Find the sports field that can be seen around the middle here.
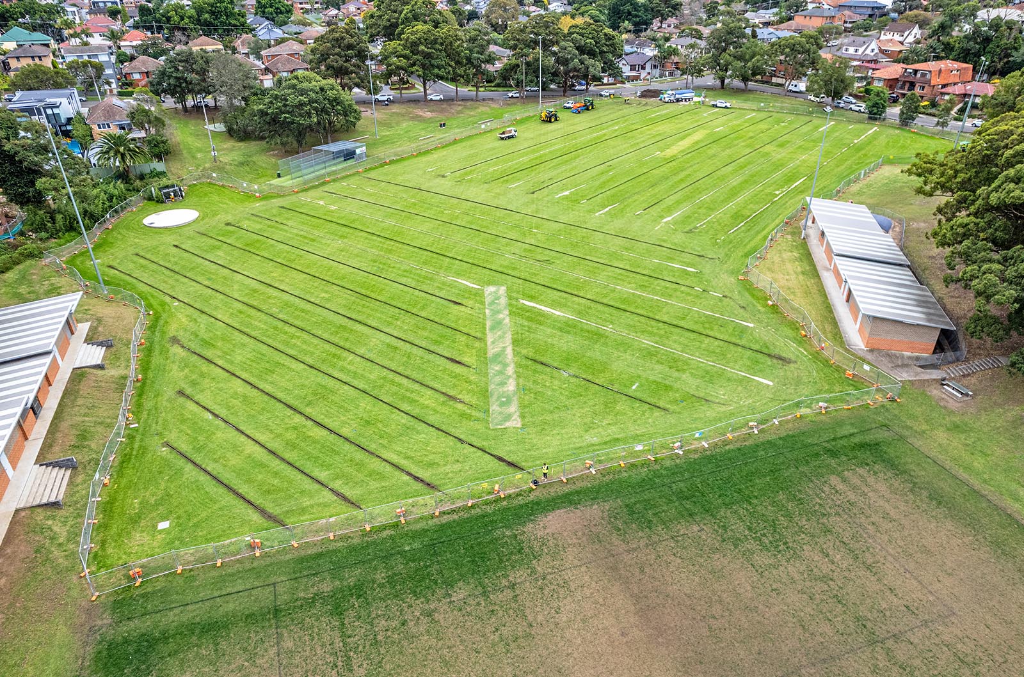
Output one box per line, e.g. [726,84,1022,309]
[483,285,522,429]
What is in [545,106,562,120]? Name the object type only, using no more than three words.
work vehicle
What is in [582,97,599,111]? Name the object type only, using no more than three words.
work vehicle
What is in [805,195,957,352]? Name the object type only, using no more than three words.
building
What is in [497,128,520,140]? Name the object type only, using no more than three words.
vehicle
